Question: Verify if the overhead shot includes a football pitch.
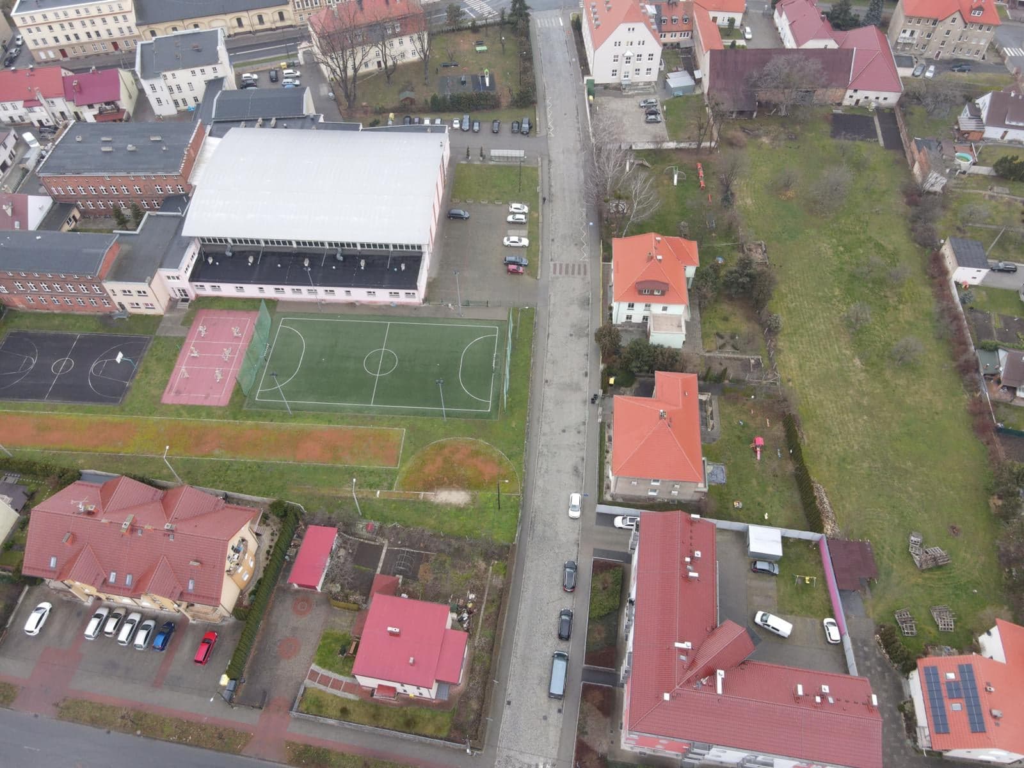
Yes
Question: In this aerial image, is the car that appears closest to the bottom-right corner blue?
No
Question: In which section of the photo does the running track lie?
left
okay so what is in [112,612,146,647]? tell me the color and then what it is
white car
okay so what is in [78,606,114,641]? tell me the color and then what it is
white car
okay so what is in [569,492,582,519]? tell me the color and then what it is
white vehicle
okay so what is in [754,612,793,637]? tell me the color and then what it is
white vehicle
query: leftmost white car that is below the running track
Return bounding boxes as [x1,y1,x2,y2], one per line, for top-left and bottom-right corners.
[21,604,54,635]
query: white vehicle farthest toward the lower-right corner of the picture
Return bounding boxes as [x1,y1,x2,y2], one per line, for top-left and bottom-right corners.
[820,616,844,646]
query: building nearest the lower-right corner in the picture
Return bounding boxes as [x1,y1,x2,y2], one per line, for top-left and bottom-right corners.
[898,611,1024,757]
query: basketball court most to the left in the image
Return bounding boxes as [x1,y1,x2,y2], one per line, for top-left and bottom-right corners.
[0,329,154,405]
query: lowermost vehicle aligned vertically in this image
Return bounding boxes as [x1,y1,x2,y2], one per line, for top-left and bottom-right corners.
[550,651,568,696]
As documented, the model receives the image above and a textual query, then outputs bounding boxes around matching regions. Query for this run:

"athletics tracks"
[0,411,405,467]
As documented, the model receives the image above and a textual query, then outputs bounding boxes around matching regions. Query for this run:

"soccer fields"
[245,311,510,420]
